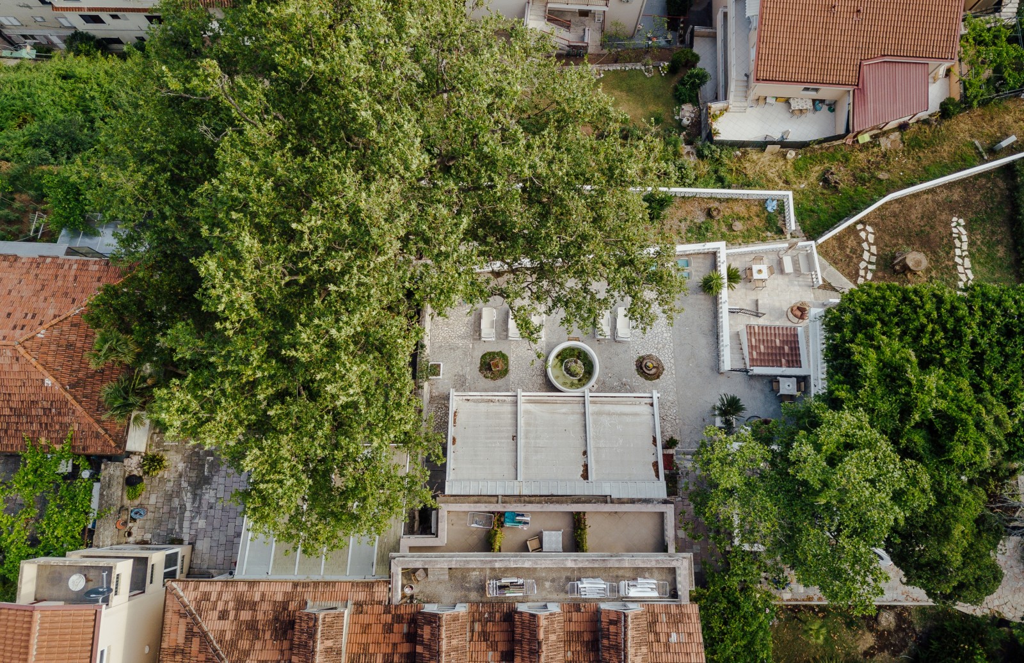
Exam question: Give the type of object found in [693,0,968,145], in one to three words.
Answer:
house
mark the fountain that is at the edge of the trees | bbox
[548,339,601,392]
